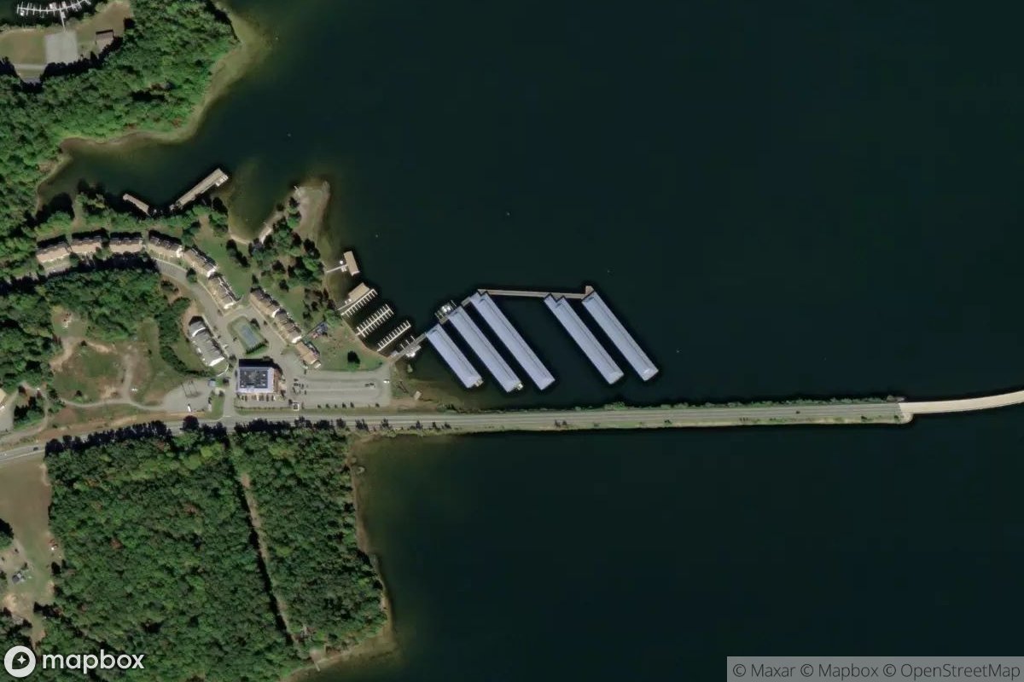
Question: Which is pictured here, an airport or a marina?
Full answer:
This image shows a marina.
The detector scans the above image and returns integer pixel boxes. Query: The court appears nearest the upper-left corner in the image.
[232,316,264,354]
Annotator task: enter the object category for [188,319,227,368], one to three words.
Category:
building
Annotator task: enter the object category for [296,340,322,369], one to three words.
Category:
building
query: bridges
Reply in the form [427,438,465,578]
[899,390,1024,415]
